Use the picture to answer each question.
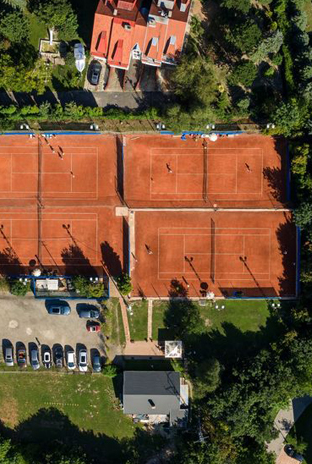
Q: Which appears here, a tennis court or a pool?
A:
tennis court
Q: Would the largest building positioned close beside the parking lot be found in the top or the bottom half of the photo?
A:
bottom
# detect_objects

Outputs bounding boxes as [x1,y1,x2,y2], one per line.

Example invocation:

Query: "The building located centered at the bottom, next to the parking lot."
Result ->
[124,369,188,427]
